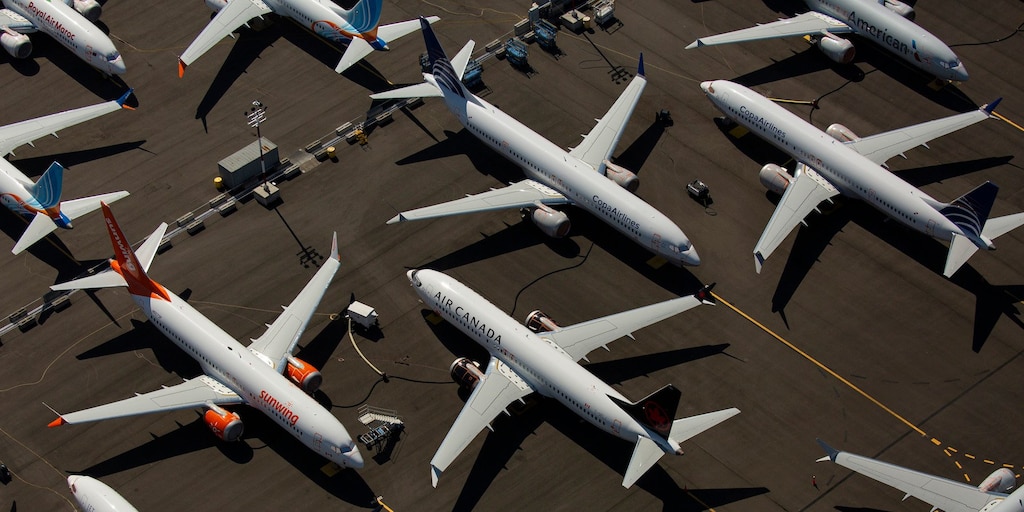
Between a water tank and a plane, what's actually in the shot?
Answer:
plane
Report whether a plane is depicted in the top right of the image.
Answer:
Yes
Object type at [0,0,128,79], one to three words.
airplane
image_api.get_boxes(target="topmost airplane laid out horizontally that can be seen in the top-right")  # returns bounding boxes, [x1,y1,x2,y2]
[682,0,970,85]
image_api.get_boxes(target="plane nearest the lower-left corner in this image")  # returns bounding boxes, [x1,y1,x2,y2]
[66,476,132,512]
